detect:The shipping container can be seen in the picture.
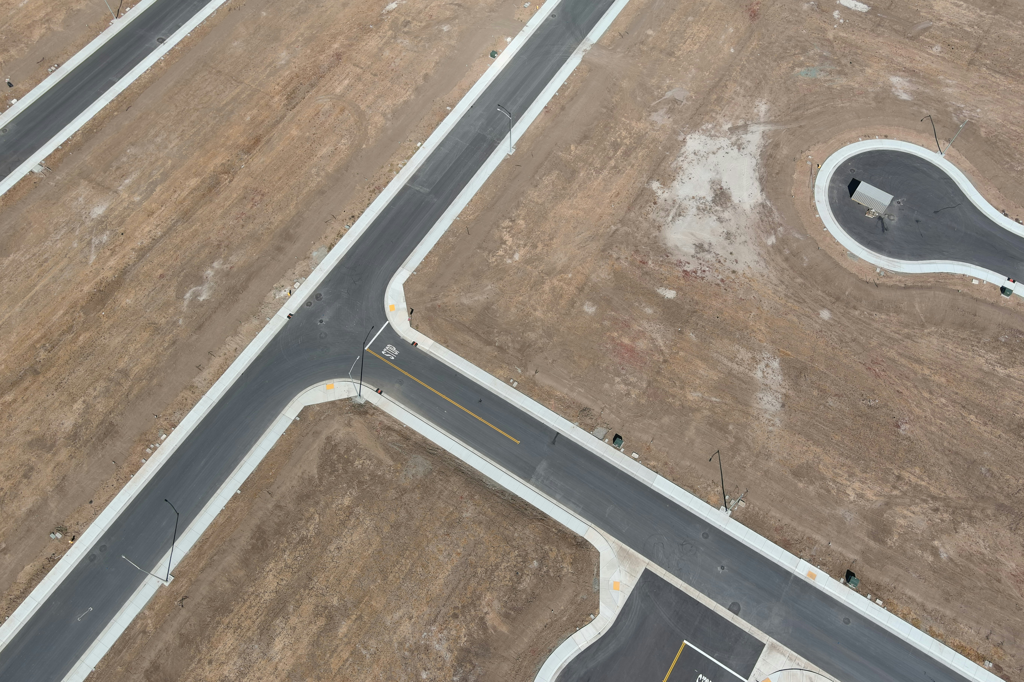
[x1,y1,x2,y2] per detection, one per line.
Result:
[852,181,893,213]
